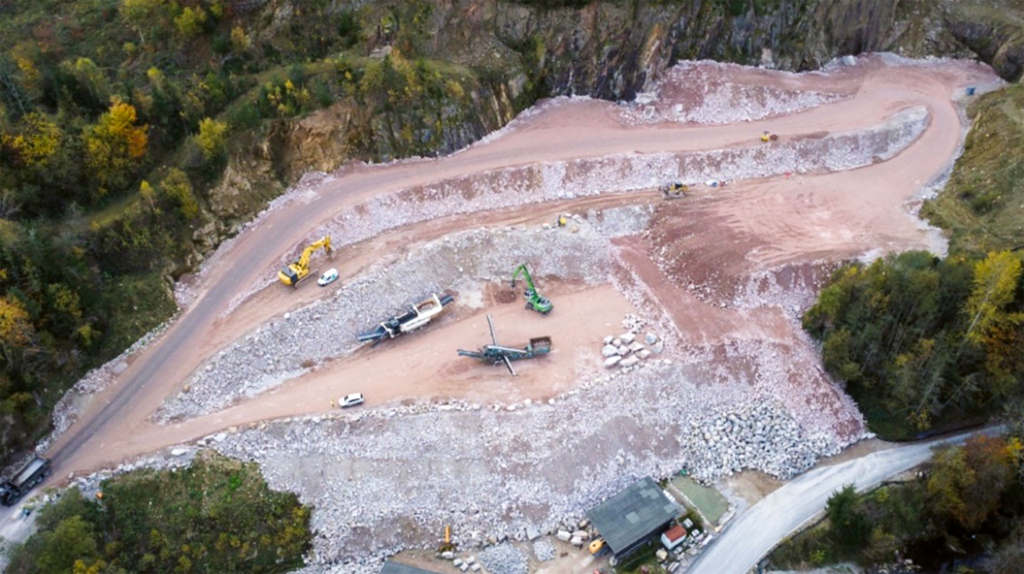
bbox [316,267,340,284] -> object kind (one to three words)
vehicle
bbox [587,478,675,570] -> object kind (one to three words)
shed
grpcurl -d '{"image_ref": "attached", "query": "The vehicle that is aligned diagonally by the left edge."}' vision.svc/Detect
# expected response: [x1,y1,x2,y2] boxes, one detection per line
[0,448,52,505]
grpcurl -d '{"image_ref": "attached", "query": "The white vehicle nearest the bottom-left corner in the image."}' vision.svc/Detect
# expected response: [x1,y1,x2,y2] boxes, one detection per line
[338,393,364,408]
